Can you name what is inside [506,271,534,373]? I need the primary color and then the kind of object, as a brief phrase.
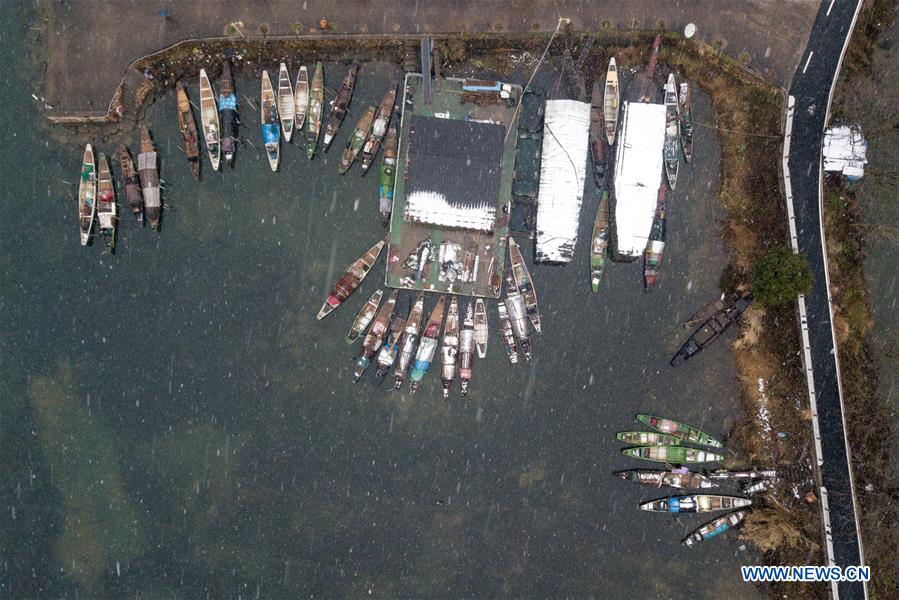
gray boat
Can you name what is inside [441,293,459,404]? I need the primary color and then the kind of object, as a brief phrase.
white boat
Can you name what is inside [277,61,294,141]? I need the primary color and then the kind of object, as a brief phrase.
white boat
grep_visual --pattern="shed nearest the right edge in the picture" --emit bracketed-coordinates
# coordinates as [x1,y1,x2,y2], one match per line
[823,124,867,182]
